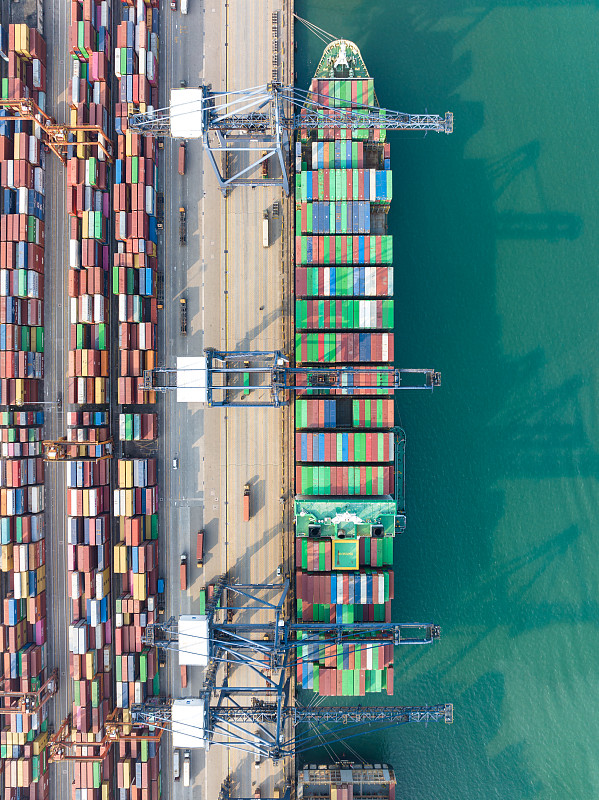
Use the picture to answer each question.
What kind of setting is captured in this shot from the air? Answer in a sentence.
It's a port.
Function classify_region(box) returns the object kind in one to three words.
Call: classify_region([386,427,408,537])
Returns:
ship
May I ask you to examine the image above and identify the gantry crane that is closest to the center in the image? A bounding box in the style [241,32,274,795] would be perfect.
[136,345,444,414]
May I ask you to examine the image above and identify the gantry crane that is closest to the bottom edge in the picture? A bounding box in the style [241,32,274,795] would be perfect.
[212,762,291,800]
